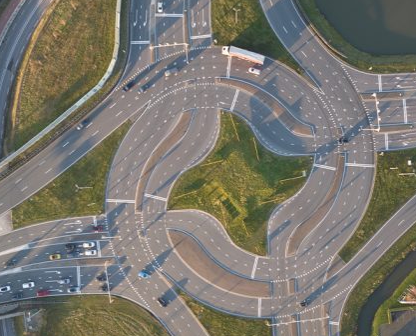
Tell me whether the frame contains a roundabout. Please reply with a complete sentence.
Yes, a roundabout is visible in the scene.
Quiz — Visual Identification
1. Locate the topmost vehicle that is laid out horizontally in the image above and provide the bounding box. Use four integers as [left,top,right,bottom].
[223,44,267,64]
